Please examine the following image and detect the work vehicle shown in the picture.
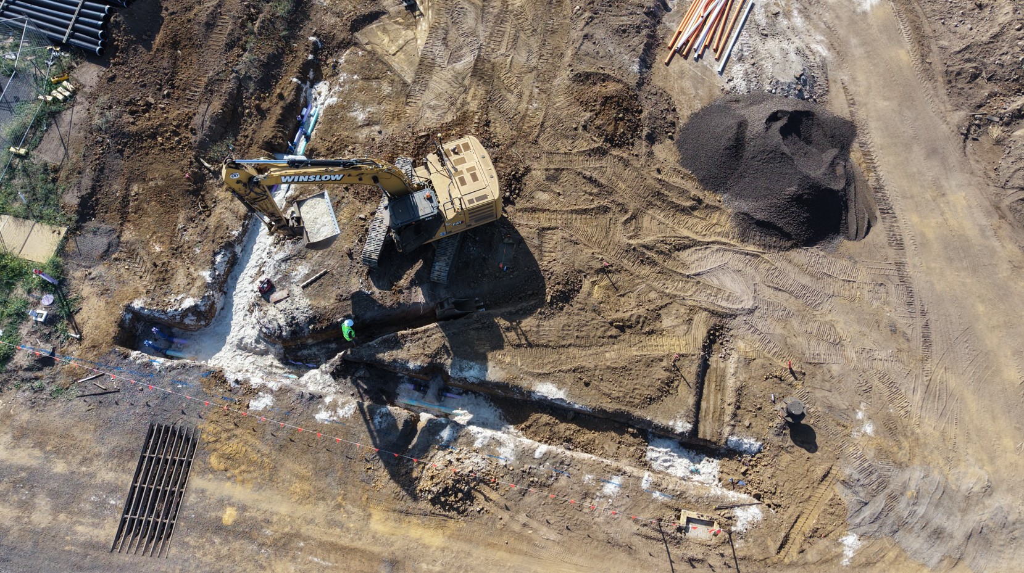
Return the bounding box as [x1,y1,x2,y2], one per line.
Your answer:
[217,131,505,285]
